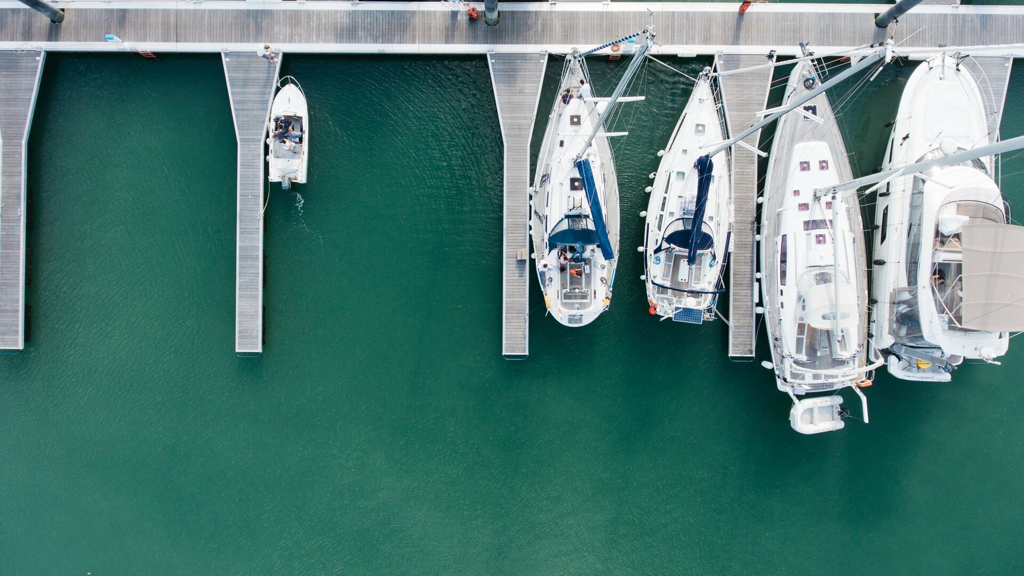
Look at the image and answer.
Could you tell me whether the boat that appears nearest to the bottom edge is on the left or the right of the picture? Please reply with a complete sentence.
The boat that appears nearest to the bottom edge sits on the right side.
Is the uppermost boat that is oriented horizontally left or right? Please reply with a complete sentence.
You can find the uppermost boat that is oriented horizontally on the right side of the picture.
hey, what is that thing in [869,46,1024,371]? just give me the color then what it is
white boat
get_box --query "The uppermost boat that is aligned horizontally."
[887,351,962,382]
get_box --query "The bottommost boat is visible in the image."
[790,398,851,433]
